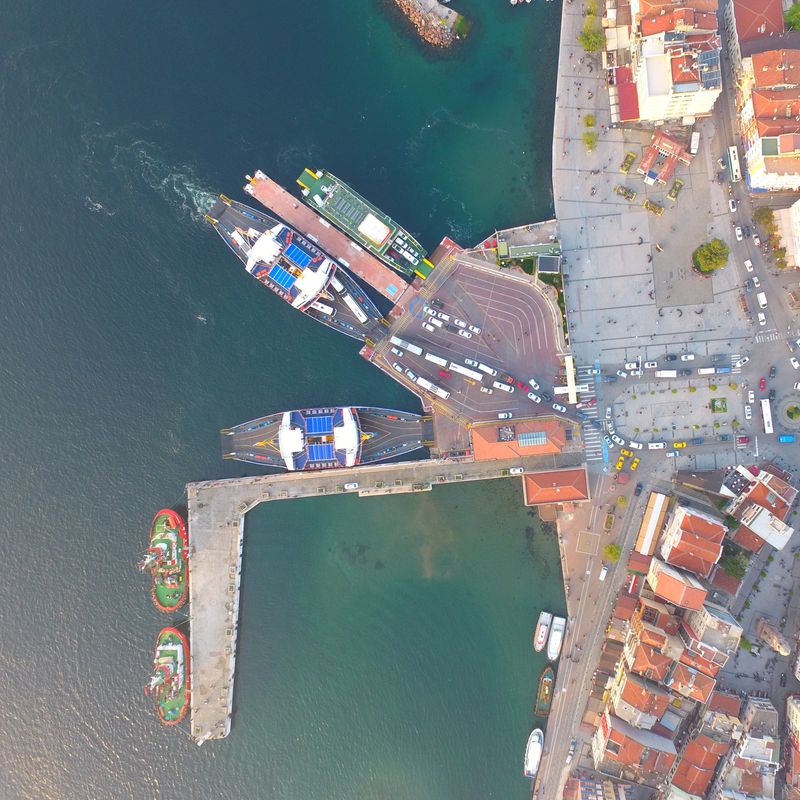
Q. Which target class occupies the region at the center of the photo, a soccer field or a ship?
ship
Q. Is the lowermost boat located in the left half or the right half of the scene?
right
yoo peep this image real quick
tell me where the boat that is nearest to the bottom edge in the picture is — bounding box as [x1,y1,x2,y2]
[523,727,545,777]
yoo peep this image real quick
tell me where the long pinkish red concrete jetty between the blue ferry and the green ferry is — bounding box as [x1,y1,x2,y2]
[245,168,409,303]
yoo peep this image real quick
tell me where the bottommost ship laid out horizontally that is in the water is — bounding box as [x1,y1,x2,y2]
[220,407,435,471]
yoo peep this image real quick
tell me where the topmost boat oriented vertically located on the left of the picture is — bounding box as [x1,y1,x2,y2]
[147,508,191,612]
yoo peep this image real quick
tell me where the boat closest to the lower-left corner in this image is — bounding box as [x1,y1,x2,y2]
[149,626,193,727]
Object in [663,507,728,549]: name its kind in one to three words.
house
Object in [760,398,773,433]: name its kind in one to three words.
vehicle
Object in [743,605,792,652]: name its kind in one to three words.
building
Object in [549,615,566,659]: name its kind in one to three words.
boat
